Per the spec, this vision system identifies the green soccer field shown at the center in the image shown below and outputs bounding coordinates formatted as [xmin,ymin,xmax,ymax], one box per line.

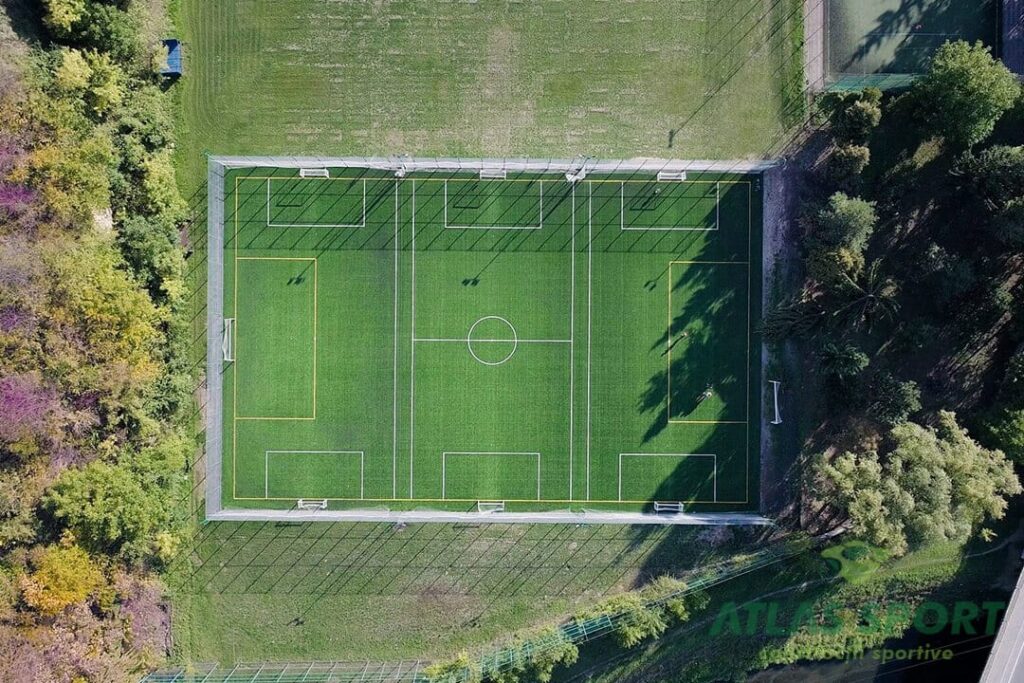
[205,155,773,525]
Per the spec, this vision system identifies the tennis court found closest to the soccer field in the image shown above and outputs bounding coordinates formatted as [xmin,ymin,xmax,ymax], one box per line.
[823,0,1001,90]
